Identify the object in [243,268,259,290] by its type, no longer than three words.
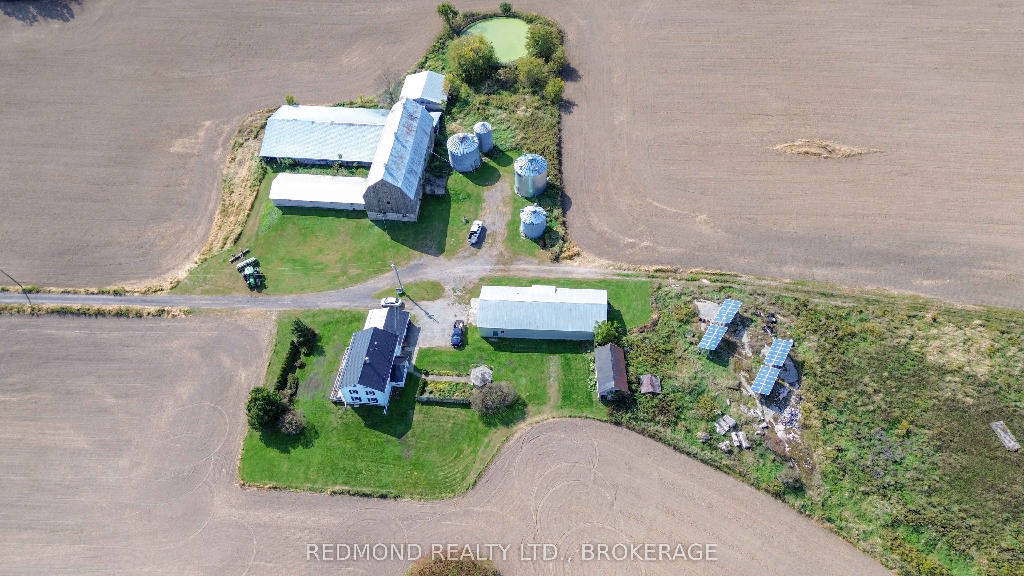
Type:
work vehicle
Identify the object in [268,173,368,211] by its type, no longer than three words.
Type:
shed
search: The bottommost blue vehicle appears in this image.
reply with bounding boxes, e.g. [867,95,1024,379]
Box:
[451,321,464,347]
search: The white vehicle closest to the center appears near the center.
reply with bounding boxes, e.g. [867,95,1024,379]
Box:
[468,221,482,243]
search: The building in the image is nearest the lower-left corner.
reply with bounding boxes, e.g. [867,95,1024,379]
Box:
[332,306,412,415]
